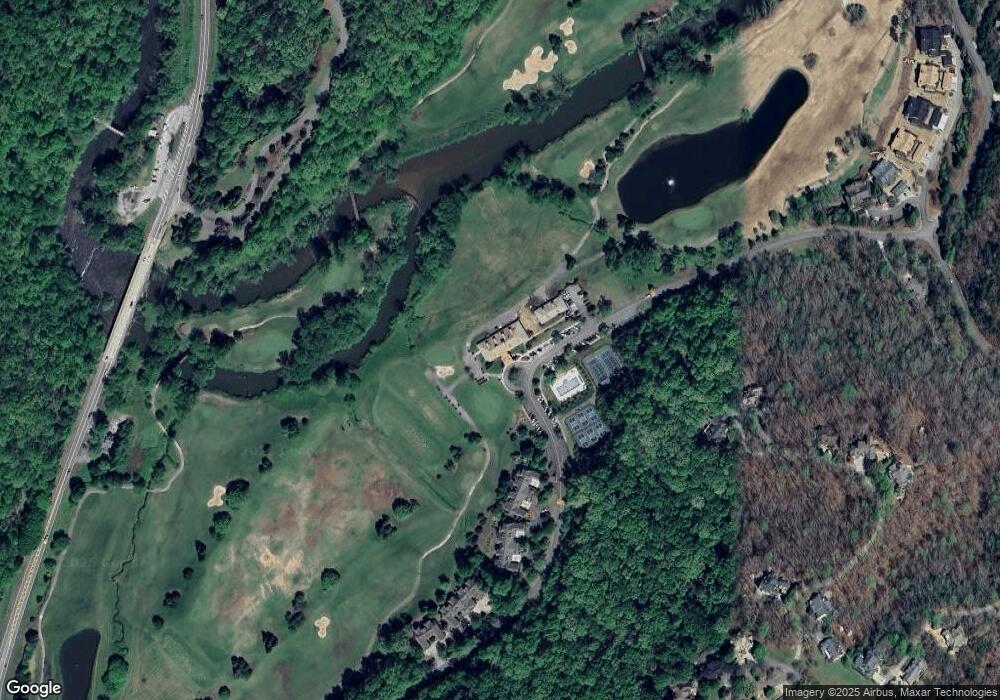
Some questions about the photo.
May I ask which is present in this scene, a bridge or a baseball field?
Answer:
bridge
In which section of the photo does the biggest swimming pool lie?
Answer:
center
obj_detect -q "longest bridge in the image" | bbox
[106,226,165,348]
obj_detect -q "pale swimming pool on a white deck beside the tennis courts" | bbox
[552,367,586,402]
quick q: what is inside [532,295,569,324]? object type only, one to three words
building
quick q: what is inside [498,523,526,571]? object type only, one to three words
house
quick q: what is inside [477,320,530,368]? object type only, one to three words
building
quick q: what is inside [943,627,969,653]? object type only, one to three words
house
